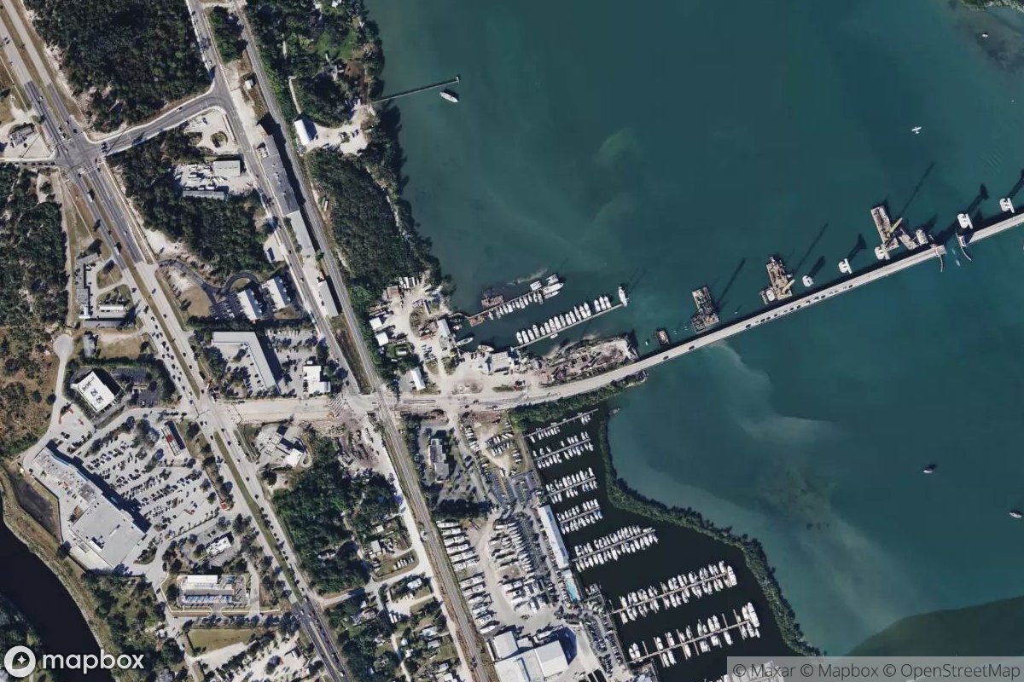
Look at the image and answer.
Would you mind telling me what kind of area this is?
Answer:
port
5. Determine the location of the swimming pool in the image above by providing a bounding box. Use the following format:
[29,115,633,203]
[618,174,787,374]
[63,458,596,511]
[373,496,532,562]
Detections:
[565,578,580,603]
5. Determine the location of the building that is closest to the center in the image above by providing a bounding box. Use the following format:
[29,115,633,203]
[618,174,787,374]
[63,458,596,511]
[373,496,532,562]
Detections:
[491,351,511,372]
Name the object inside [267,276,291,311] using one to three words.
building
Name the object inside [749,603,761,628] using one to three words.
boat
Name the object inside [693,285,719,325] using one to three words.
ship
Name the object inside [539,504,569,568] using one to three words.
shed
